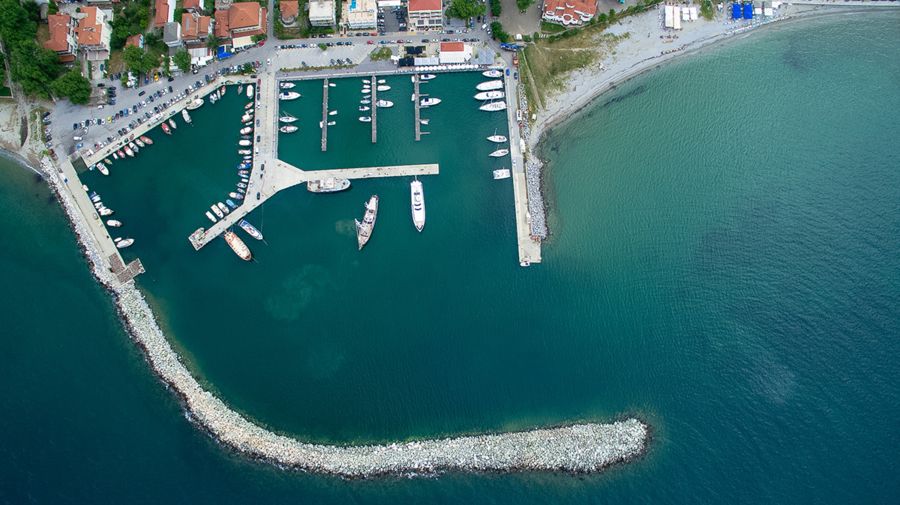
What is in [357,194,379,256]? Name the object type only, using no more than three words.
ship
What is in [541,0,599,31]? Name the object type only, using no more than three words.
building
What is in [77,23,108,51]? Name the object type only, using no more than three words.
house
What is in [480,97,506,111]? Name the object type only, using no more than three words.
boat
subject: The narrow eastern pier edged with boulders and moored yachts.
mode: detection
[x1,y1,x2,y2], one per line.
[503,66,541,264]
